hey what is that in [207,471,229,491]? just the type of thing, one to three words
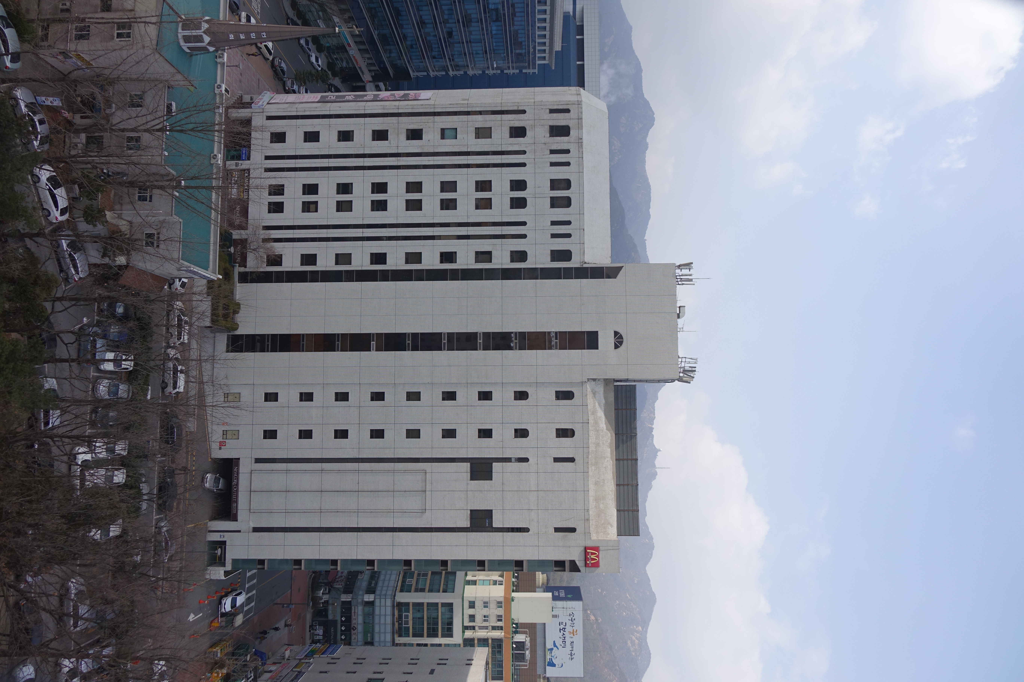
car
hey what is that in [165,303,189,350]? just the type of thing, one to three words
car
